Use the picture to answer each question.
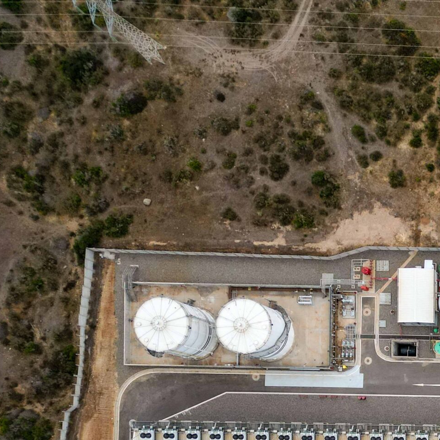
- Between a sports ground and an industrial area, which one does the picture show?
industrial area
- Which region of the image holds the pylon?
top left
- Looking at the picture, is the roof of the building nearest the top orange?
No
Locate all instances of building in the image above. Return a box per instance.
[129,419,440,440]
[399,267,437,326]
